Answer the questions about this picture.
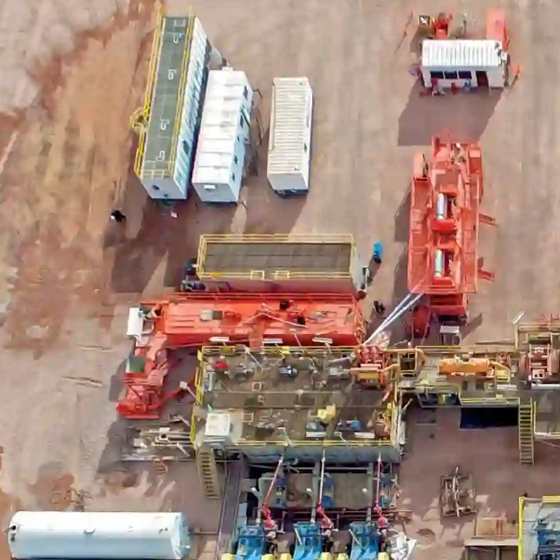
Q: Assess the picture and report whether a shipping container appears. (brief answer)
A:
Yes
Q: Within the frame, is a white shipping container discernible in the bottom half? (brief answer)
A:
No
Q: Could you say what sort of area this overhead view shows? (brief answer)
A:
industrial area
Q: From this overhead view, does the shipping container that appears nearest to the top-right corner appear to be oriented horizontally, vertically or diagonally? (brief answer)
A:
vertically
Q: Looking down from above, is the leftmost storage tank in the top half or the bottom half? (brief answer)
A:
bottom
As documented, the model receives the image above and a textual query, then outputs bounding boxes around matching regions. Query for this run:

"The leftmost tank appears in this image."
[4,511,222,560]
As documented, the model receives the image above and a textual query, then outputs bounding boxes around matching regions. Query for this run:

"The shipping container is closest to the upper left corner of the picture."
[117,4,199,199]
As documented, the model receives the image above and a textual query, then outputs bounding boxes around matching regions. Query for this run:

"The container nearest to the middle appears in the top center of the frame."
[267,77,314,196]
